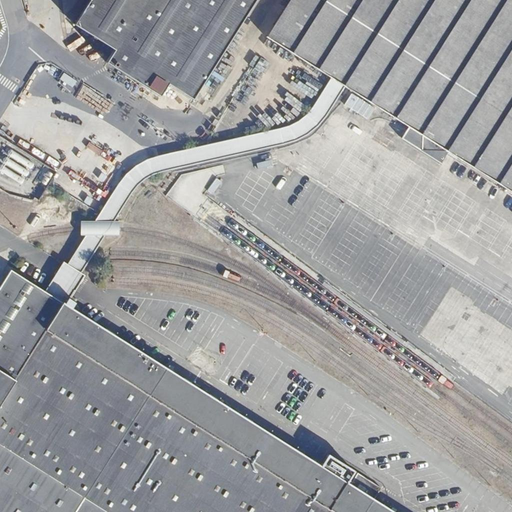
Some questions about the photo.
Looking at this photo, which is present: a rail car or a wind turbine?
rail car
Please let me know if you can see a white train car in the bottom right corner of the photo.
Yes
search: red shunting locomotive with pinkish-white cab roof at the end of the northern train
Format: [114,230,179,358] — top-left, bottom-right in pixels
[436,374,456,391]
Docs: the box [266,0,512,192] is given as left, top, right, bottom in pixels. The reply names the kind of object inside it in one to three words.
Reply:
building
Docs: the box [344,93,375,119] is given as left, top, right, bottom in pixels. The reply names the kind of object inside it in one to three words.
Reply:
shed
